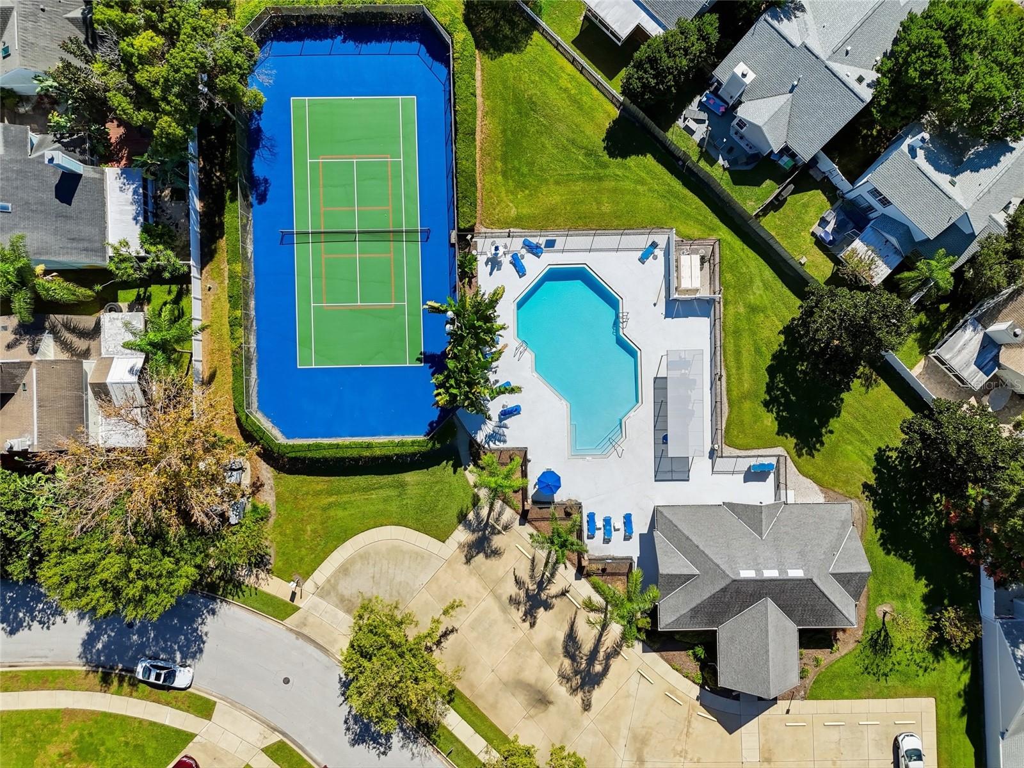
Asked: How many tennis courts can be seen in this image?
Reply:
one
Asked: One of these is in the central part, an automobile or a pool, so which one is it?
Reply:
pool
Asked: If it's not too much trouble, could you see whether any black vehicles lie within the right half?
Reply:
No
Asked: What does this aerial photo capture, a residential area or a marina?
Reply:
residential area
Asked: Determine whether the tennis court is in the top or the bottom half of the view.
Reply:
top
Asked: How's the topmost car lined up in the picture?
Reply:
horizontally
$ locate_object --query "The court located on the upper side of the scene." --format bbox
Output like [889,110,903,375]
[246,17,464,443]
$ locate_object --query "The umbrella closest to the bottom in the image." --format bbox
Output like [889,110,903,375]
[537,471,560,494]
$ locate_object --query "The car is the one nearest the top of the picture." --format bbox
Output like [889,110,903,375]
[137,657,195,689]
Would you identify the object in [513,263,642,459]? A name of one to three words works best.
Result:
swimming pool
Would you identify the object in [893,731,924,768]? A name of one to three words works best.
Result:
car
